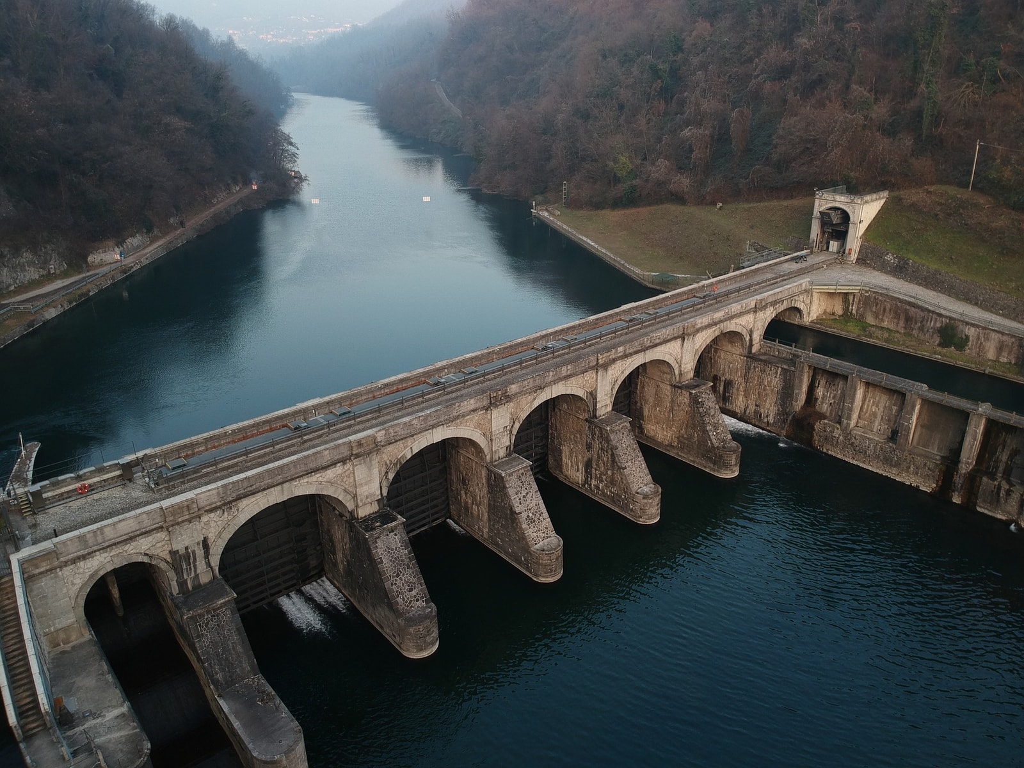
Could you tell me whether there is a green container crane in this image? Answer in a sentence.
No, this view has no green container crane in it.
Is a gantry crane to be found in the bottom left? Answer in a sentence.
No, I see no gantry crane in the bottom left.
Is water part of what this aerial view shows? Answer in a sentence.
Yes, water shows up in the scene.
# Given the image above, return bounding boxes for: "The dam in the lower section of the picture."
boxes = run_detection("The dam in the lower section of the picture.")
[0,253,833,768]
